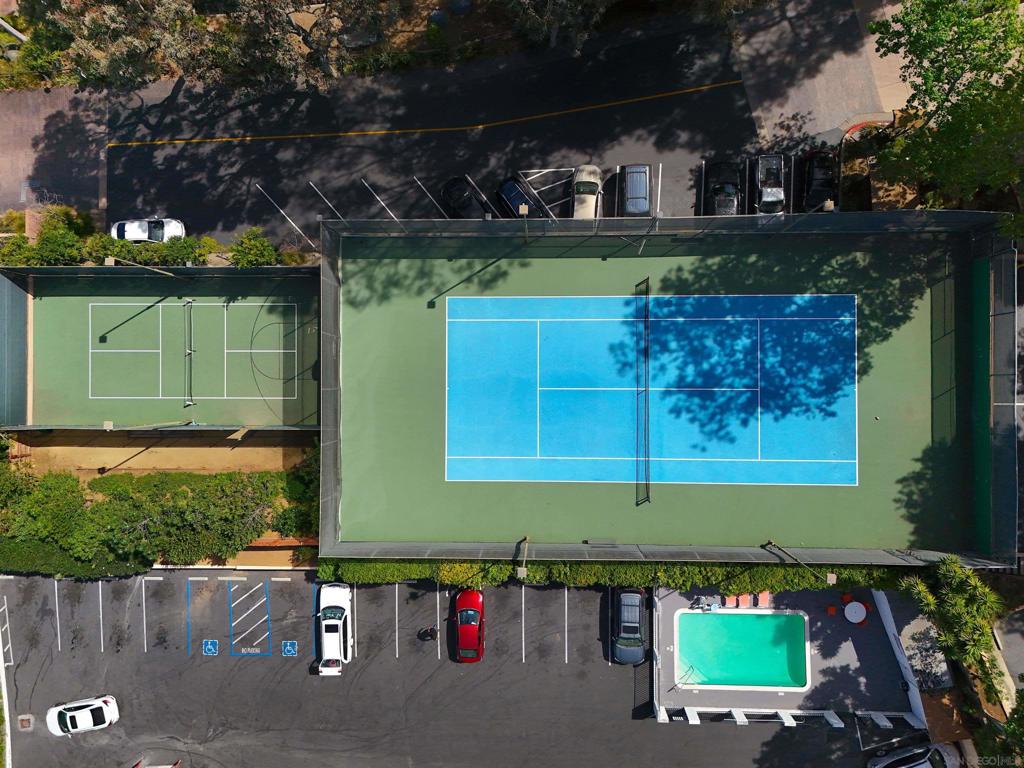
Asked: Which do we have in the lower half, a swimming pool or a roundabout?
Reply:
swimming pool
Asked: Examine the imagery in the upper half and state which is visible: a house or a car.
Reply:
car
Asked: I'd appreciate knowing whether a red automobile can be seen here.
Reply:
Yes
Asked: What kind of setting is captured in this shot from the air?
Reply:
sports ground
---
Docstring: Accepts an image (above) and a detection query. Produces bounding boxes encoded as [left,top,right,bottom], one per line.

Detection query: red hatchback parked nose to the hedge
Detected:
[453,588,486,662]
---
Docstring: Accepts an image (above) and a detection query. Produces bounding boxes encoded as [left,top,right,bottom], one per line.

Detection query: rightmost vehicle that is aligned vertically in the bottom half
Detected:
[612,586,648,665]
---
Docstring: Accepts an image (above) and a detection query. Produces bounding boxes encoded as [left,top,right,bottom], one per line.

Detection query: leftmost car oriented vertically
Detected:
[314,583,352,673]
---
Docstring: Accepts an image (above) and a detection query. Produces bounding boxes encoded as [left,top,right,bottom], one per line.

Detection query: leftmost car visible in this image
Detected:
[49,693,122,738]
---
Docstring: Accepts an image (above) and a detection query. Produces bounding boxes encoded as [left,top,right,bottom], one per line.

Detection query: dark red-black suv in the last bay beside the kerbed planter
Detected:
[799,147,842,218]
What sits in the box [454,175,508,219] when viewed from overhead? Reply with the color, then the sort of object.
black car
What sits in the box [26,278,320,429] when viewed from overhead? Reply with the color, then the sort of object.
green sports court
